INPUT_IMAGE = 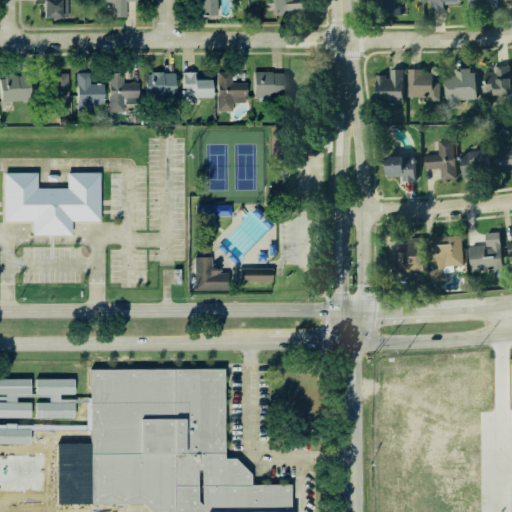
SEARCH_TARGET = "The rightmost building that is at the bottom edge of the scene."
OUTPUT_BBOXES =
[91,368,294,512]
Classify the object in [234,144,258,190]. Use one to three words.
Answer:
tennis court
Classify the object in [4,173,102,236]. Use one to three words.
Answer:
building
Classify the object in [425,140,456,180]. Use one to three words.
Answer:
house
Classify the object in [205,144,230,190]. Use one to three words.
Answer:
tennis court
